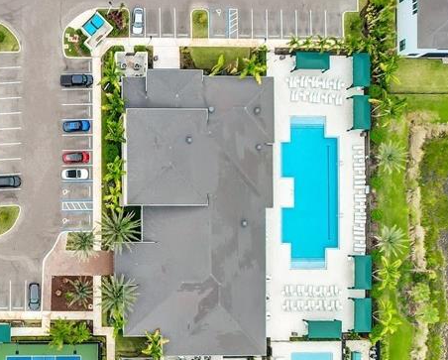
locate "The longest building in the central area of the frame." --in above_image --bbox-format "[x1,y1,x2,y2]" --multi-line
[113,68,274,356]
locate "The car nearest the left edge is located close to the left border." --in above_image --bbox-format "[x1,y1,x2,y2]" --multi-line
[0,174,20,187]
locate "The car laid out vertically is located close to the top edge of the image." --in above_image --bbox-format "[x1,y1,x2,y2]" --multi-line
[131,7,144,35]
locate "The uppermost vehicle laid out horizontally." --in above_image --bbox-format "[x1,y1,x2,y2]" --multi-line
[60,73,94,86]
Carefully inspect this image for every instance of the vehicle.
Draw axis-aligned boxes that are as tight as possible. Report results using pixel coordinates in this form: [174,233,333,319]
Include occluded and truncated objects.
[62,149,88,163]
[131,7,144,35]
[63,119,89,132]
[27,282,41,308]
[62,167,88,180]
[60,73,94,86]
[0,174,20,187]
